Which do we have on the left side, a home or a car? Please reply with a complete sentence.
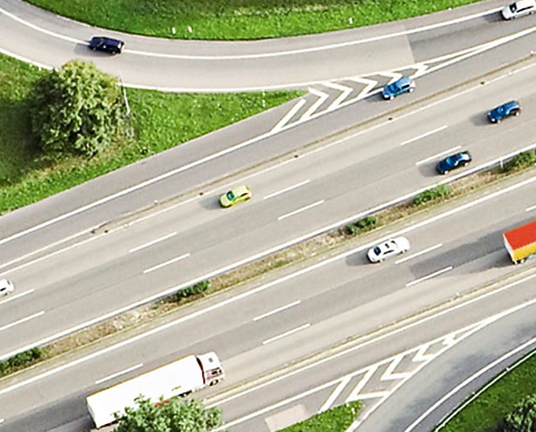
Looking on the left side, you will find a car.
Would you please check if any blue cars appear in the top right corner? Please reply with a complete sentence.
Yes, a blue car can be seen in the top right corner.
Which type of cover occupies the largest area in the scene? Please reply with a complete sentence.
The bulk of the photo consists of paved ground.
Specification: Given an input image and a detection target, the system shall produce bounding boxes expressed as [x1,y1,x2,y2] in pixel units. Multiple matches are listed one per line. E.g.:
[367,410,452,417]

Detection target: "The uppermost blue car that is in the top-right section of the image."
[382,75,415,99]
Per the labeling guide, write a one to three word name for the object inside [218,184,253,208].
car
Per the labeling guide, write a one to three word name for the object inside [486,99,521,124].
car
